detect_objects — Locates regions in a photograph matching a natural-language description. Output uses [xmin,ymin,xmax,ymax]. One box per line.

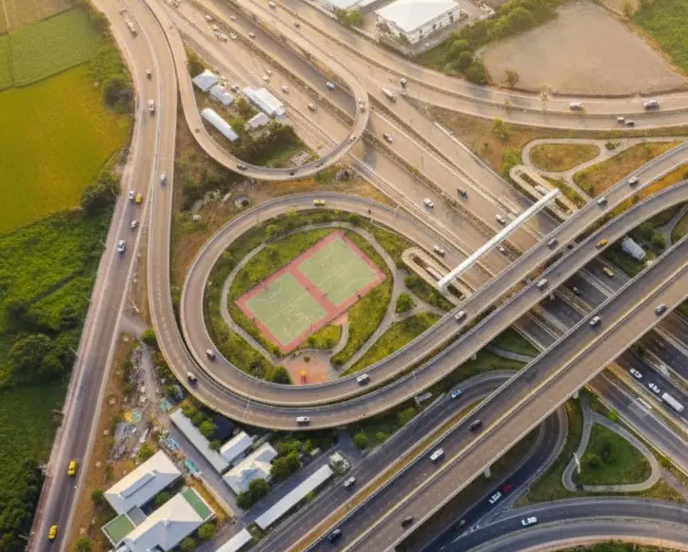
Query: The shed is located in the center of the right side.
[623,240,646,264]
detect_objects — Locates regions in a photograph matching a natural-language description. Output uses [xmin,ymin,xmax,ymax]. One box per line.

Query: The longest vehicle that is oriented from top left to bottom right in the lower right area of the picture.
[661,392,683,412]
